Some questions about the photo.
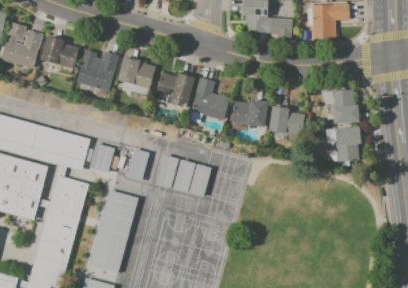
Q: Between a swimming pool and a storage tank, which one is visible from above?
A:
swimming pool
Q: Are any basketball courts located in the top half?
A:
No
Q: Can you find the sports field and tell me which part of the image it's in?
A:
bottom right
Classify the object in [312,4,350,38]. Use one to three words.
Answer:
house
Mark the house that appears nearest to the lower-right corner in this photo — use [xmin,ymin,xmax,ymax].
[328,127,360,161]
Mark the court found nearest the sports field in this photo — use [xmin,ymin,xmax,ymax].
[188,220,229,288]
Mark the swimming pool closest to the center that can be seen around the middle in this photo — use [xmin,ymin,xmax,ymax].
[191,112,226,136]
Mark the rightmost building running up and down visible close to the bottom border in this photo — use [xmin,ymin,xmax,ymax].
[87,192,138,274]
